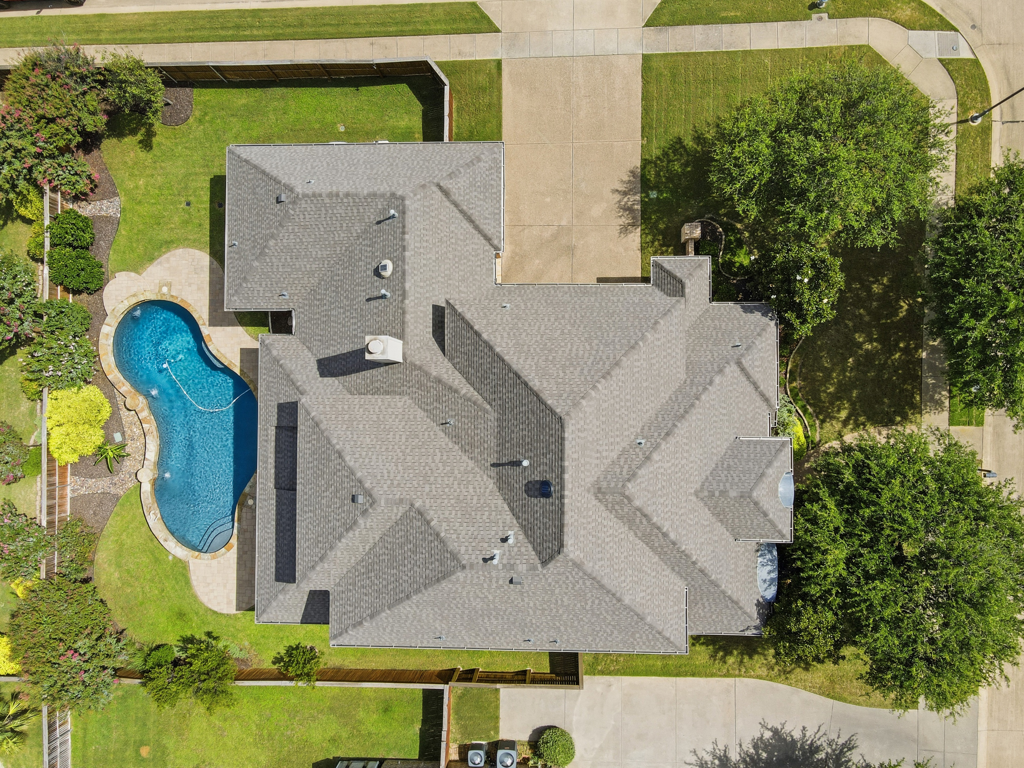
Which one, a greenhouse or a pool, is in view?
pool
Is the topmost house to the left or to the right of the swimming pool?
to its right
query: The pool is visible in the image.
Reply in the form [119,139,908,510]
[96,286,257,562]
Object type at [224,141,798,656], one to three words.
house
